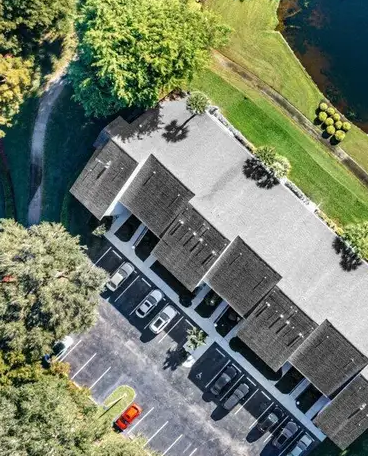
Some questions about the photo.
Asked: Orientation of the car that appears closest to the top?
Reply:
on a diagonal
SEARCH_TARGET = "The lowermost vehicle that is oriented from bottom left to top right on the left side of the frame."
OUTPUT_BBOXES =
[114,401,144,431]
